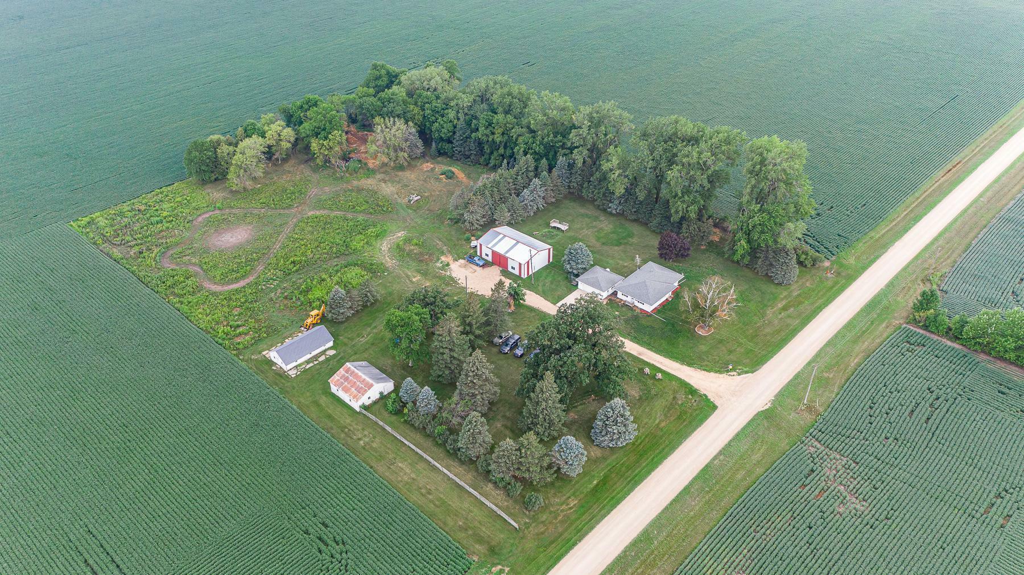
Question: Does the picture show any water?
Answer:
No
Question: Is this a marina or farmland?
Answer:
farmland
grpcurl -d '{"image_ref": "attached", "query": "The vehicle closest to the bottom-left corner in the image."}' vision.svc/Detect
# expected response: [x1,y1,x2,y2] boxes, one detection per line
[297,304,325,332]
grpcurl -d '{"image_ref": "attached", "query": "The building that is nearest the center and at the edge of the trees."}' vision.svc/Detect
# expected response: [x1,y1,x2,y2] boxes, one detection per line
[475,225,554,278]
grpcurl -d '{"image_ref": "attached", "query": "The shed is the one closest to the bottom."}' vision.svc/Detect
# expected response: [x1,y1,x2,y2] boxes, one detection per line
[328,359,394,410]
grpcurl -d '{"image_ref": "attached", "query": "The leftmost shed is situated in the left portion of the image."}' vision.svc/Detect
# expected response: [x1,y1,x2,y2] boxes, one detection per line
[267,326,334,370]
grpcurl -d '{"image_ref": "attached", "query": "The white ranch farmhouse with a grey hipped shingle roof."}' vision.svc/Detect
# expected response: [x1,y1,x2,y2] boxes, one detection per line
[611,261,685,313]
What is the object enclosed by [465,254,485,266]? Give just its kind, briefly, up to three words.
vehicle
